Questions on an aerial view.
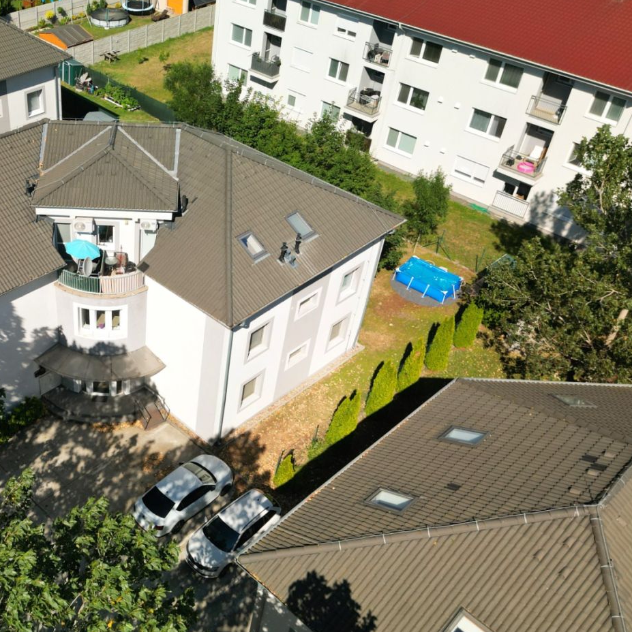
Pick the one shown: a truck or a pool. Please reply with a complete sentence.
The one in the frame is a pool.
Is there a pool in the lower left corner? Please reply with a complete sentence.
No, looking in the lower left corner, there is no pool.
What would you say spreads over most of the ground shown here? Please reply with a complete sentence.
The bulk of the photo consists of buildings.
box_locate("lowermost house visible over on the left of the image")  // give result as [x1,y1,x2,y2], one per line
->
[0,110,408,454]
